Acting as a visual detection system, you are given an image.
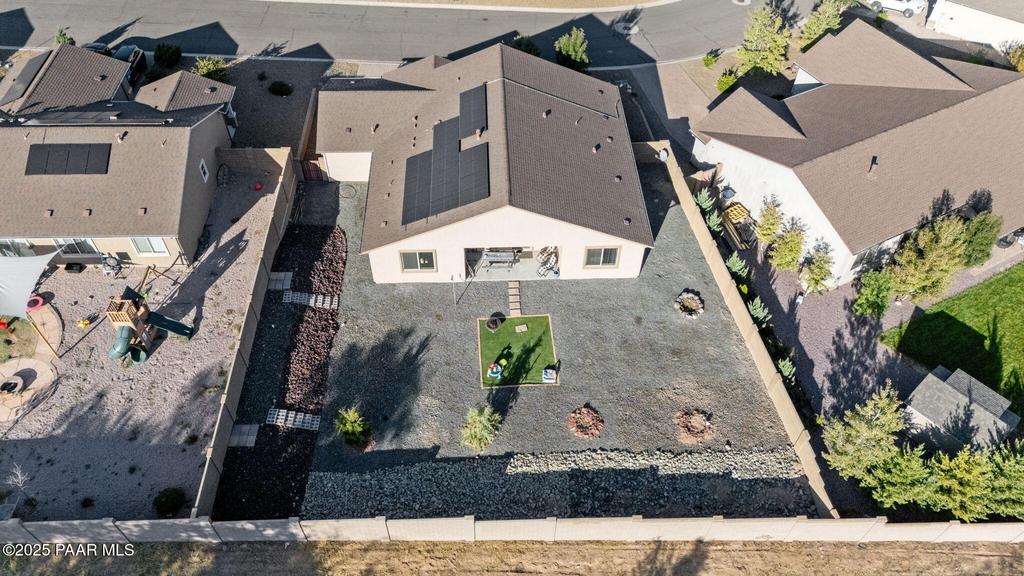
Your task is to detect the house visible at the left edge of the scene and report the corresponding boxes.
[0,43,250,267]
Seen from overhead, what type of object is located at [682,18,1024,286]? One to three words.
house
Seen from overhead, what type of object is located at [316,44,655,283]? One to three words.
house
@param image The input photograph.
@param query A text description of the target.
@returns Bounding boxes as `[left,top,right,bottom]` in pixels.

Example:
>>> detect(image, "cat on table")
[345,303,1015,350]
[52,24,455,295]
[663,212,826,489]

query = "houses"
[925,0,1024,51]
[0,43,250,267]
[682,18,1024,286]
[316,44,655,283]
